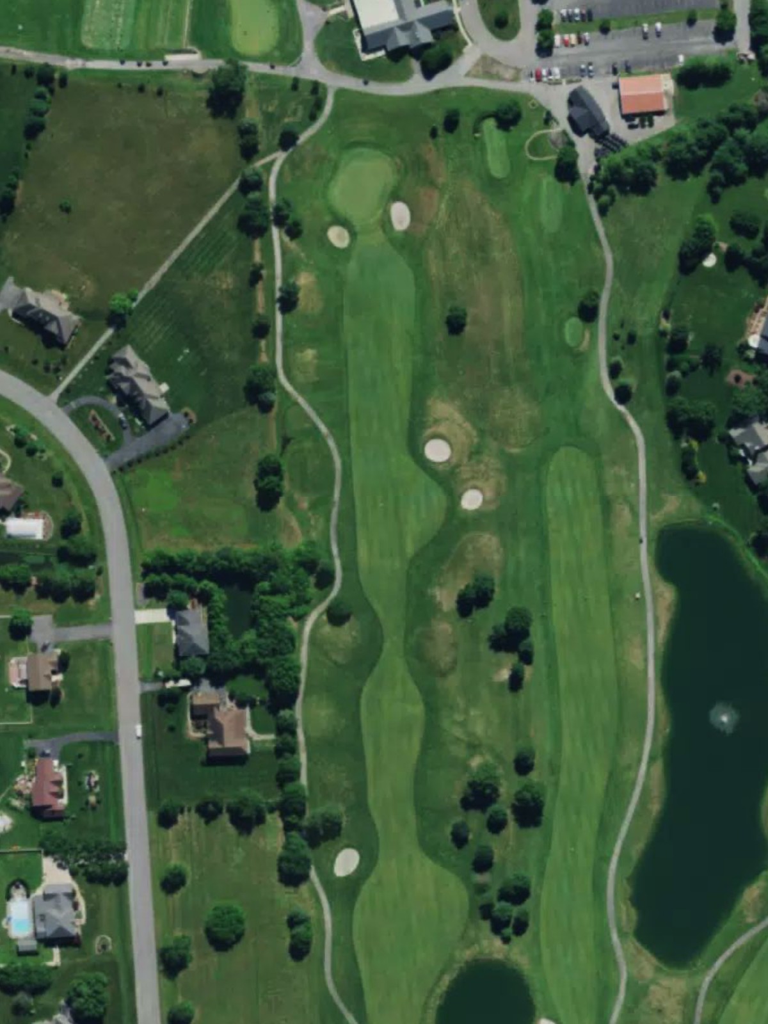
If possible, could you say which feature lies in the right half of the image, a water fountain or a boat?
water fountain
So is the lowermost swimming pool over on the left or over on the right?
left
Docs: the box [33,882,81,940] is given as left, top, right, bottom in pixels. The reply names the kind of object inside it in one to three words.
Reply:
house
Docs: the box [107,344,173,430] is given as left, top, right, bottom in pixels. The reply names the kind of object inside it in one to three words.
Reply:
house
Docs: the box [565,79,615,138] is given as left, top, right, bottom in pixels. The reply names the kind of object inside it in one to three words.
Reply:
building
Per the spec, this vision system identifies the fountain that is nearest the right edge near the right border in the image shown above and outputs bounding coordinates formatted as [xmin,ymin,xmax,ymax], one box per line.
[710,705,738,733]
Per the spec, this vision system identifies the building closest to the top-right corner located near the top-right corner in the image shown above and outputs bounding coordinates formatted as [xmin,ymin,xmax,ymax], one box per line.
[620,73,666,113]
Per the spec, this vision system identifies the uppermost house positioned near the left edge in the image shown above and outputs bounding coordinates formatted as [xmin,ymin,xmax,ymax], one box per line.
[9,285,81,343]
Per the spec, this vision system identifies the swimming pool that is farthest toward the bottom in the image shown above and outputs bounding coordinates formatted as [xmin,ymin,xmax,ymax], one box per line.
[1,898,34,939]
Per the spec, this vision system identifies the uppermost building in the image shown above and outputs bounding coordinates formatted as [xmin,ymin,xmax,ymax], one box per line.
[353,0,459,54]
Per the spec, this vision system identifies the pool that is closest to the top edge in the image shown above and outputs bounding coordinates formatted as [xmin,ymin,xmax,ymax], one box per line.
[1,512,52,541]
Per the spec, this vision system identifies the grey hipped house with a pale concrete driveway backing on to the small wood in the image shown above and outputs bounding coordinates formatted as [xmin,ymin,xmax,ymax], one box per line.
[175,610,208,656]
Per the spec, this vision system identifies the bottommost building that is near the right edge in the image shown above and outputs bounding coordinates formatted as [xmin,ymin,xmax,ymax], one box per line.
[730,415,768,490]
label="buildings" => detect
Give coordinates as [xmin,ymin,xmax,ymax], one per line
[21,651,63,692]
[757,321,768,359]
[107,344,173,430]
[175,610,208,656]
[0,472,23,511]
[620,73,666,113]
[353,0,459,54]
[33,882,81,940]
[32,1001,76,1024]
[565,79,615,138]
[730,415,768,490]
[31,760,64,811]
[191,694,248,757]
[9,285,81,343]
